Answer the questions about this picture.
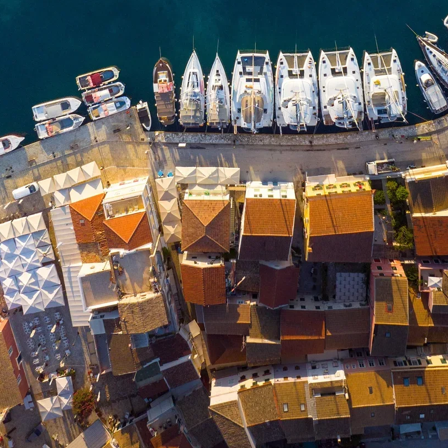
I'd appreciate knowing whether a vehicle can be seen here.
Yes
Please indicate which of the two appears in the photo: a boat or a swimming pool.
boat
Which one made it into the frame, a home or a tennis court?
home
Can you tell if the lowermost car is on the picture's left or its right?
left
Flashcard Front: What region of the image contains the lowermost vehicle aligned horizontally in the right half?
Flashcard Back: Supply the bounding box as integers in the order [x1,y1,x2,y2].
[367,160,400,177]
